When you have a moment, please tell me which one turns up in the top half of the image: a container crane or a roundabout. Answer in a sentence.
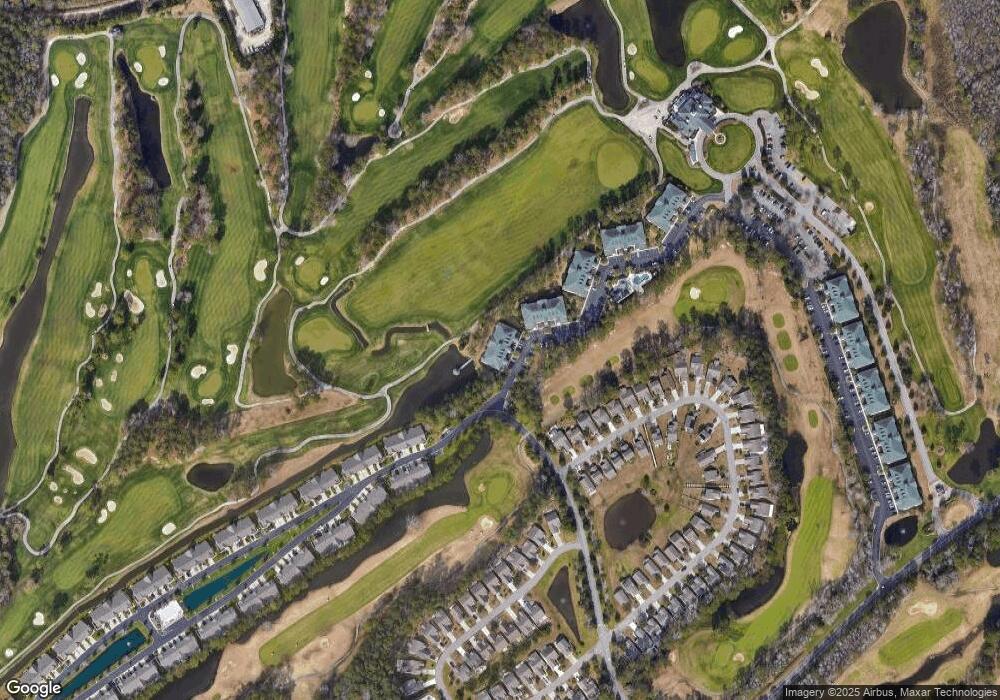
You can see a roundabout in the top half of the image.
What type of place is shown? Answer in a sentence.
The picture captures a golf course.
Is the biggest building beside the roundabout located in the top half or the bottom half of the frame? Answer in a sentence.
The biggest building beside the roundabout is in the top half of the image.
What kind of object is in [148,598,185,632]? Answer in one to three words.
building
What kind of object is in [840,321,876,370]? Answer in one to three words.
building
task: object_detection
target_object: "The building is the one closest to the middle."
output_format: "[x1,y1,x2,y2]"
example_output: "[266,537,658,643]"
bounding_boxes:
[479,322,521,372]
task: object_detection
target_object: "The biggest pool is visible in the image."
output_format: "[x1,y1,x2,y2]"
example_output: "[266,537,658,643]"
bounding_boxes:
[628,272,652,295]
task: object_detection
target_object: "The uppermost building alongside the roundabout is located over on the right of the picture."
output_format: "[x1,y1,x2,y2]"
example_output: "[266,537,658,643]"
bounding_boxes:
[670,85,724,143]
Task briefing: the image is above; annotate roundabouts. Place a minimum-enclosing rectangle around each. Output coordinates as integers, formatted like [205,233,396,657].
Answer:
[696,109,766,179]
